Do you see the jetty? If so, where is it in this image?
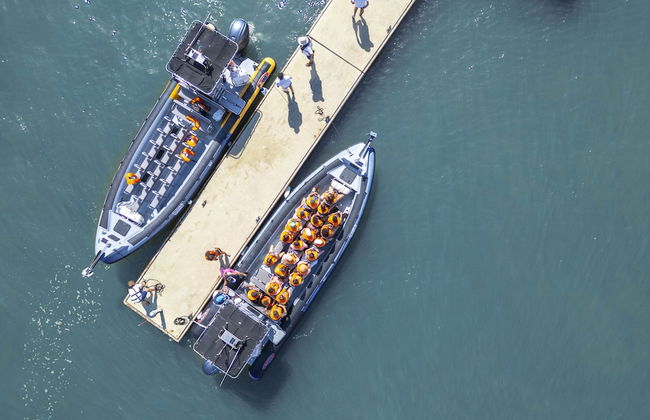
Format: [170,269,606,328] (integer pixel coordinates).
[122,0,416,341]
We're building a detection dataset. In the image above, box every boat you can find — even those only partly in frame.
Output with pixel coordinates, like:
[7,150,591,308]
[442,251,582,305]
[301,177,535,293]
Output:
[79,9,277,278]
[189,131,381,389]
